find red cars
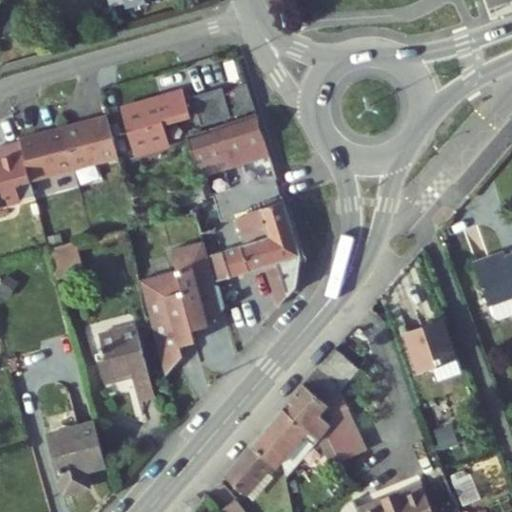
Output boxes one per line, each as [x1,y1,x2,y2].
[61,338,71,354]
[258,272,271,296]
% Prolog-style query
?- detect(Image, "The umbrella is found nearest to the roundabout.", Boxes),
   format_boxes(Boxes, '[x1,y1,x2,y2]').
[211,178,228,194]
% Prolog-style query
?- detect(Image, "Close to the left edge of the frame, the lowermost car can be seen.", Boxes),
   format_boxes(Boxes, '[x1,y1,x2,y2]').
[22,392,34,414]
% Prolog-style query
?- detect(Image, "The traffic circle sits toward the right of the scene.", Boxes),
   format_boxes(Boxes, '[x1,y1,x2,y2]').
[304,42,436,173]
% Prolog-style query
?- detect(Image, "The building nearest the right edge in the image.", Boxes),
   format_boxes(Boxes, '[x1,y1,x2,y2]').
[472,248,512,321]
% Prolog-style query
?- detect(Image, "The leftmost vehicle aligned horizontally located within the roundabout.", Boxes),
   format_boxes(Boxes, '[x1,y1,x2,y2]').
[348,52,372,64]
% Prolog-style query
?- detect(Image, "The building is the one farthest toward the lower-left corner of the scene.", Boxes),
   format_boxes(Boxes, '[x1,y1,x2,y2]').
[48,422,106,496]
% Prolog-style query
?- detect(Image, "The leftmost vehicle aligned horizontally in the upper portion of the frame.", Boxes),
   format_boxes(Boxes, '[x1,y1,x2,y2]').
[159,74,183,86]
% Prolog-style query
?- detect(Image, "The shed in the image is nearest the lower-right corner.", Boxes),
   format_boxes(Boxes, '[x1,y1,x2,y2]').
[451,473,480,507]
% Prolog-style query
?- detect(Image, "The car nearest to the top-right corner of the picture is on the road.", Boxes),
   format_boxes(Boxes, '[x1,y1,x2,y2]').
[482,28,506,41]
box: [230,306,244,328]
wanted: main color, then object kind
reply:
white car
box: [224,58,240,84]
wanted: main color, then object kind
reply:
white vehicle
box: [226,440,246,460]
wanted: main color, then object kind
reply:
white car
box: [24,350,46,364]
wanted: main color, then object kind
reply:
white vehicle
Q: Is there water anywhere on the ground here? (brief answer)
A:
No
